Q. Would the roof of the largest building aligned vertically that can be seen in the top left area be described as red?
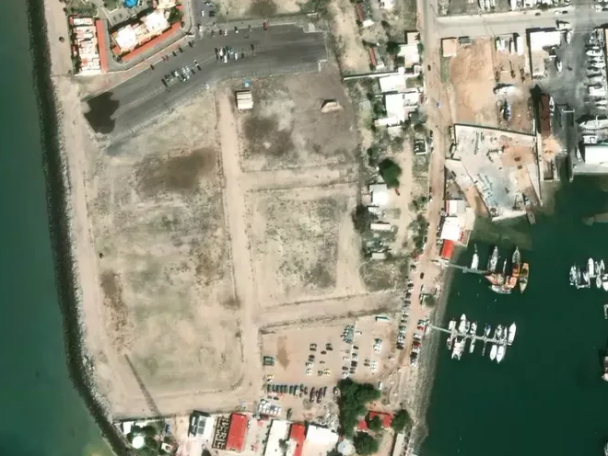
No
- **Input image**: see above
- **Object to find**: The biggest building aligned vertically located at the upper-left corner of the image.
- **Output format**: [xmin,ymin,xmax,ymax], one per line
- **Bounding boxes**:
[70,17,102,78]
